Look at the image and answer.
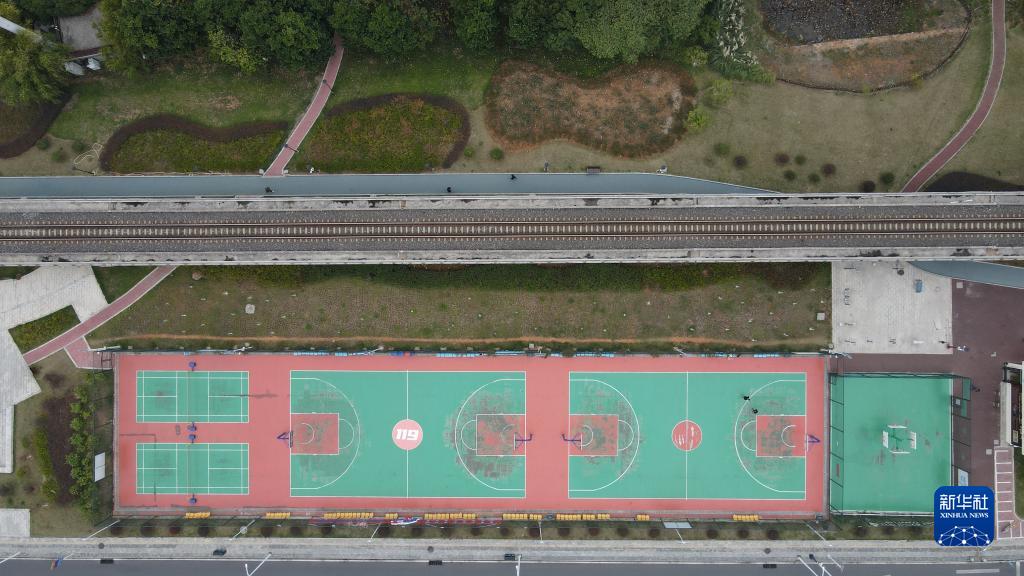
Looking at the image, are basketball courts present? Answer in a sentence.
Yes, this view includes a basketball court.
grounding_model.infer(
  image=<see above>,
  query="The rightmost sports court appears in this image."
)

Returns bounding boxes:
[832,372,953,516]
